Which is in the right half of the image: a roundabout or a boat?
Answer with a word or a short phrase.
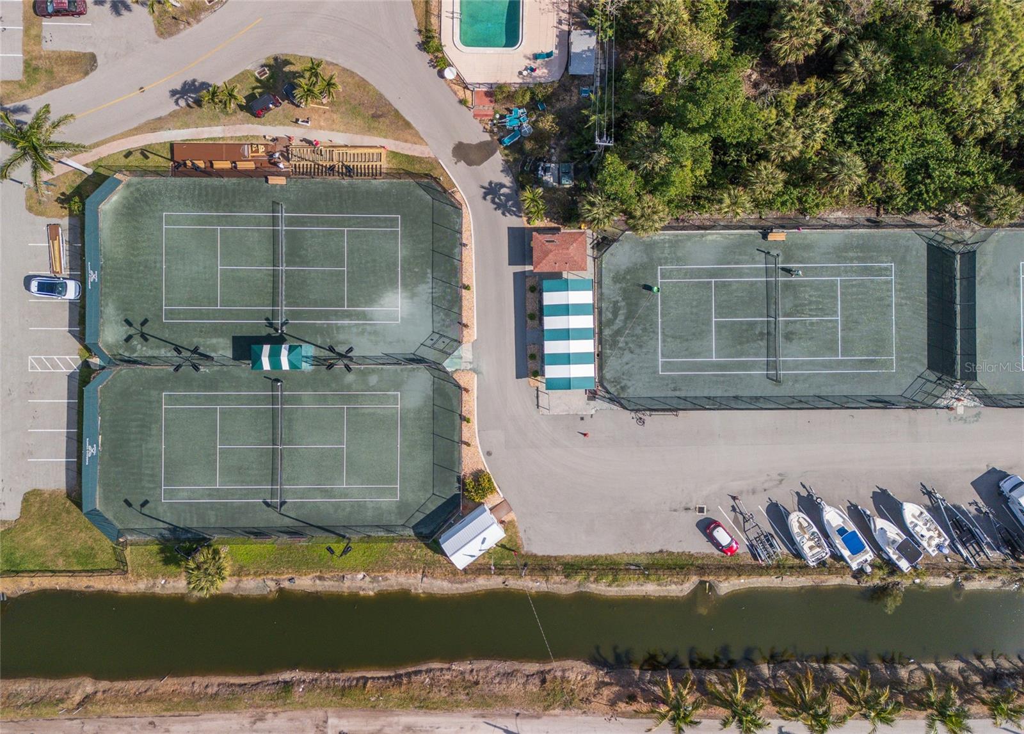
boat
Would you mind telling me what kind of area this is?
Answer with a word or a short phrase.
sports ground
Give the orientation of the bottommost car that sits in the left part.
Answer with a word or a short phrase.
horizontally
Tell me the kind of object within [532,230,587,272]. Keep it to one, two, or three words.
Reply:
building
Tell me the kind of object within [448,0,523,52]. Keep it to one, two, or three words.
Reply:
swimming pool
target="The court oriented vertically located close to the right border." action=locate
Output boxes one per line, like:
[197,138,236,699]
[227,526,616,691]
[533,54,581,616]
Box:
[960,232,1024,407]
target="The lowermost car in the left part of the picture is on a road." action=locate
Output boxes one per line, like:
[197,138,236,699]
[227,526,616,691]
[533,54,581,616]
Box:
[30,277,83,299]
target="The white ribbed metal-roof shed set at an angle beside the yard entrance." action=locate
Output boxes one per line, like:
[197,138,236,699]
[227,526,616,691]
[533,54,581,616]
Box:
[437,502,508,572]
